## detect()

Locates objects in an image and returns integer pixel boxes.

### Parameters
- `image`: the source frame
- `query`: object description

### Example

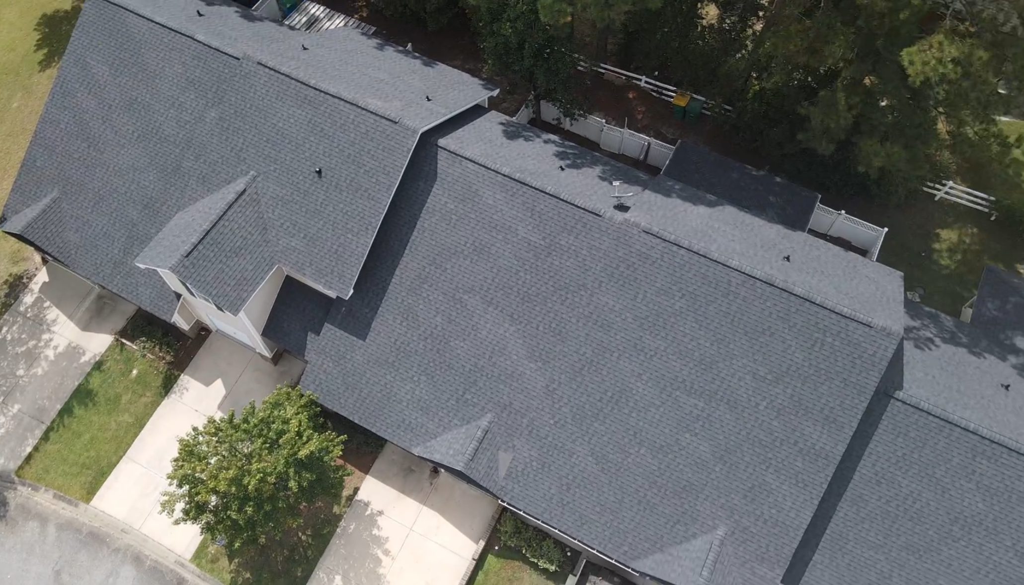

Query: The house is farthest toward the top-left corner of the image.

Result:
[0,0,503,368]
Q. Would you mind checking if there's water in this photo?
No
